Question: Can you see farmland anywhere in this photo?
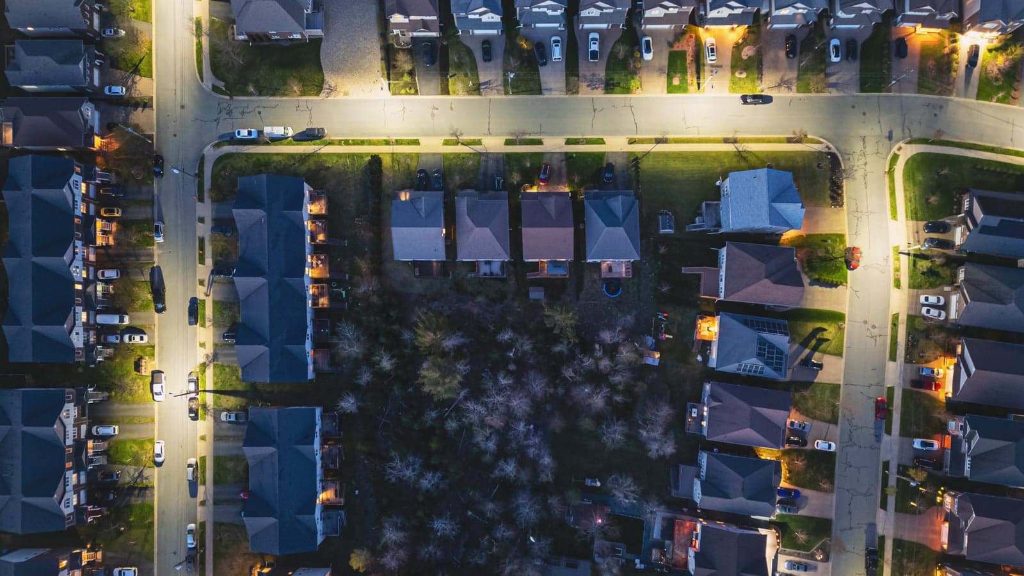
No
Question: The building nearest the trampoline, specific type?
home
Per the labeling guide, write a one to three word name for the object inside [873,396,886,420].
vehicle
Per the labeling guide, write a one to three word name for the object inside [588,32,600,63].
vehicle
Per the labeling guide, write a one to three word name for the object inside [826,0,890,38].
house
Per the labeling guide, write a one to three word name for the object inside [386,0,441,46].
house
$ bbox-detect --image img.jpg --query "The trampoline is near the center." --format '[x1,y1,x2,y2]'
[603,278,622,298]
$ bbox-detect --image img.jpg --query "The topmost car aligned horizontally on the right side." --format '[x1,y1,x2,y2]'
[740,93,767,106]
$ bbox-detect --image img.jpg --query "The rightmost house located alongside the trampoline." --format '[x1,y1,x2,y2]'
[583,190,640,277]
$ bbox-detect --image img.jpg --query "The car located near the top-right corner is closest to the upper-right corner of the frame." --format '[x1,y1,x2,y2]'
[965,44,981,70]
